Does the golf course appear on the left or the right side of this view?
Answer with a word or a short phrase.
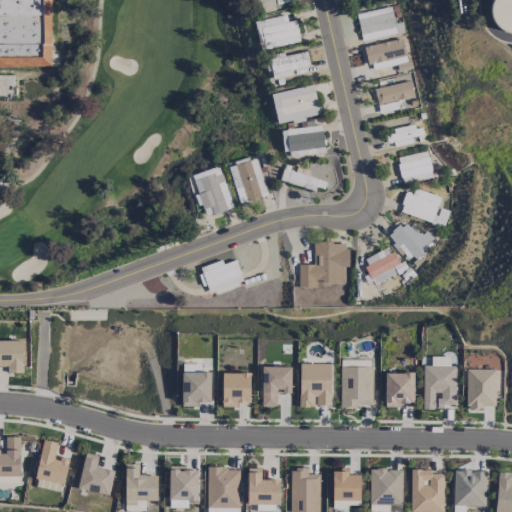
left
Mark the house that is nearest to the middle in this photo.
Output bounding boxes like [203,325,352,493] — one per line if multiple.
[200,260,244,293]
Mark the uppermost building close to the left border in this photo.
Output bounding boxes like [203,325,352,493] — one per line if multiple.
[0,0,52,66]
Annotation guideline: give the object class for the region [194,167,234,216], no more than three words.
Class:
house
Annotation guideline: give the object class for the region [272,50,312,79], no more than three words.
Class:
house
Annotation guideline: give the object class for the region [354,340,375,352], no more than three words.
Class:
swimming pool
